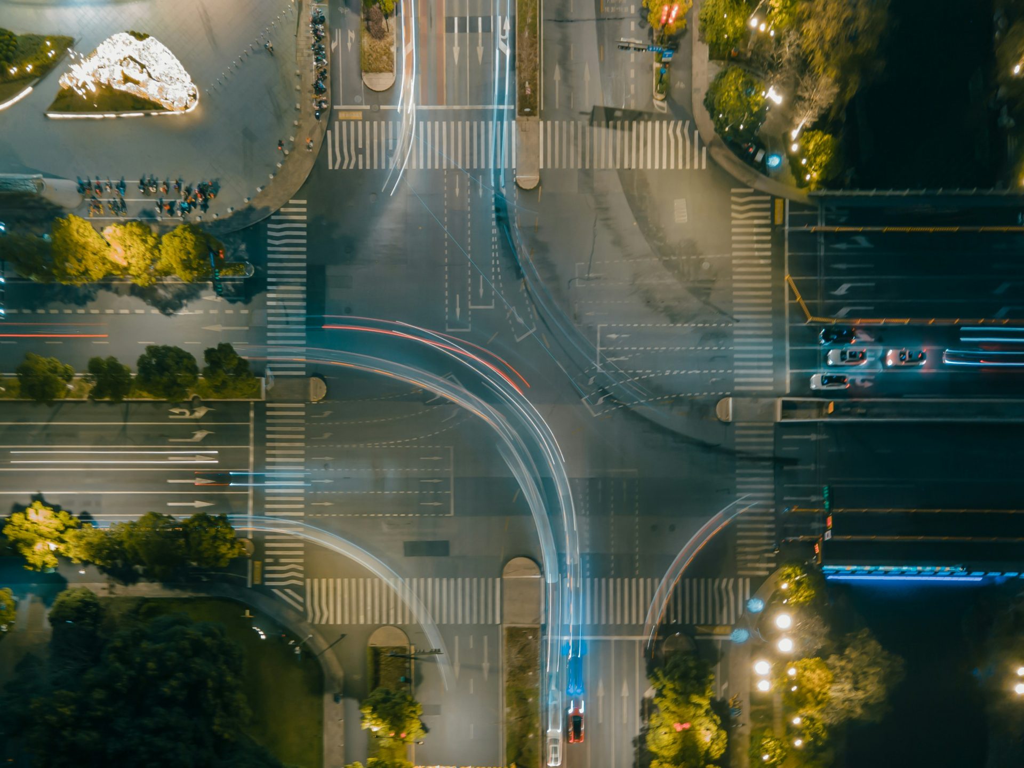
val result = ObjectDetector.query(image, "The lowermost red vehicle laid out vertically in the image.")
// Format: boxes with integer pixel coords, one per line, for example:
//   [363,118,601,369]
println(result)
[567,706,585,744]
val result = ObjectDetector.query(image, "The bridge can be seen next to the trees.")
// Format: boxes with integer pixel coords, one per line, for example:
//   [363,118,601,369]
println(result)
[819,207,1024,575]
